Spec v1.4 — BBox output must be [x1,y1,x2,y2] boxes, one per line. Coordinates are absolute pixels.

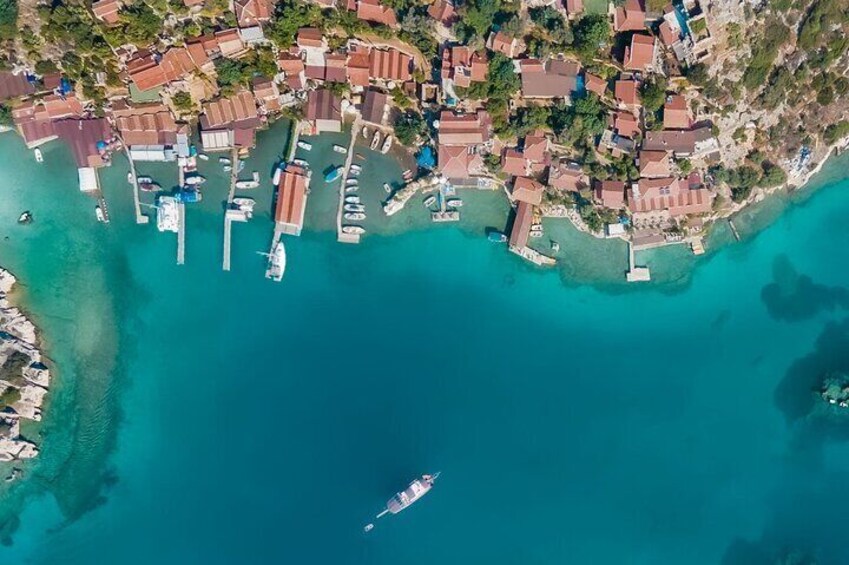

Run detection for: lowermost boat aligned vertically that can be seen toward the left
[263,240,284,284]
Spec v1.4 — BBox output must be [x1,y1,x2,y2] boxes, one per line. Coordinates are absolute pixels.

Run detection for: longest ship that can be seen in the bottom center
[378,475,441,519]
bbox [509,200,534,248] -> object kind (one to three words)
building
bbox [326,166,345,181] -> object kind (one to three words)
boat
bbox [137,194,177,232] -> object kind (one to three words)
boat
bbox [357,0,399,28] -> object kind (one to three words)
house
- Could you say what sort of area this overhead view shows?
residential area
